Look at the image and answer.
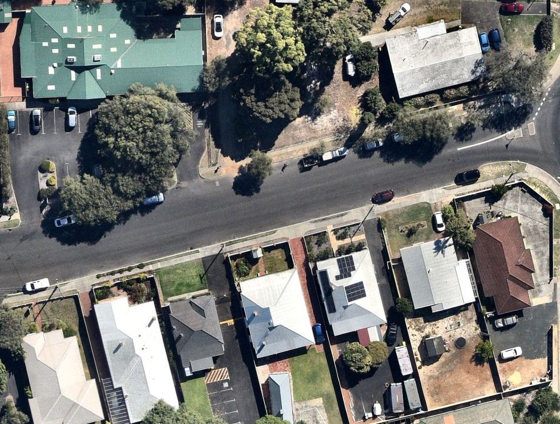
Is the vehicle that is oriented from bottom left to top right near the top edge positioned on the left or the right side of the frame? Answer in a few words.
right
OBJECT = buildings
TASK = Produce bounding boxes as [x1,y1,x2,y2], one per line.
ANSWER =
[239,268,315,358]
[168,294,225,373]
[399,238,479,313]
[93,296,178,424]
[473,216,535,314]
[269,373,293,424]
[385,21,487,99]
[0,0,13,22]
[19,2,203,99]
[425,336,447,357]
[316,249,387,346]
[411,397,514,424]
[24,329,104,424]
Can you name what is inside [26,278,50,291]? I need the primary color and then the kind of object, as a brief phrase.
white vehicle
